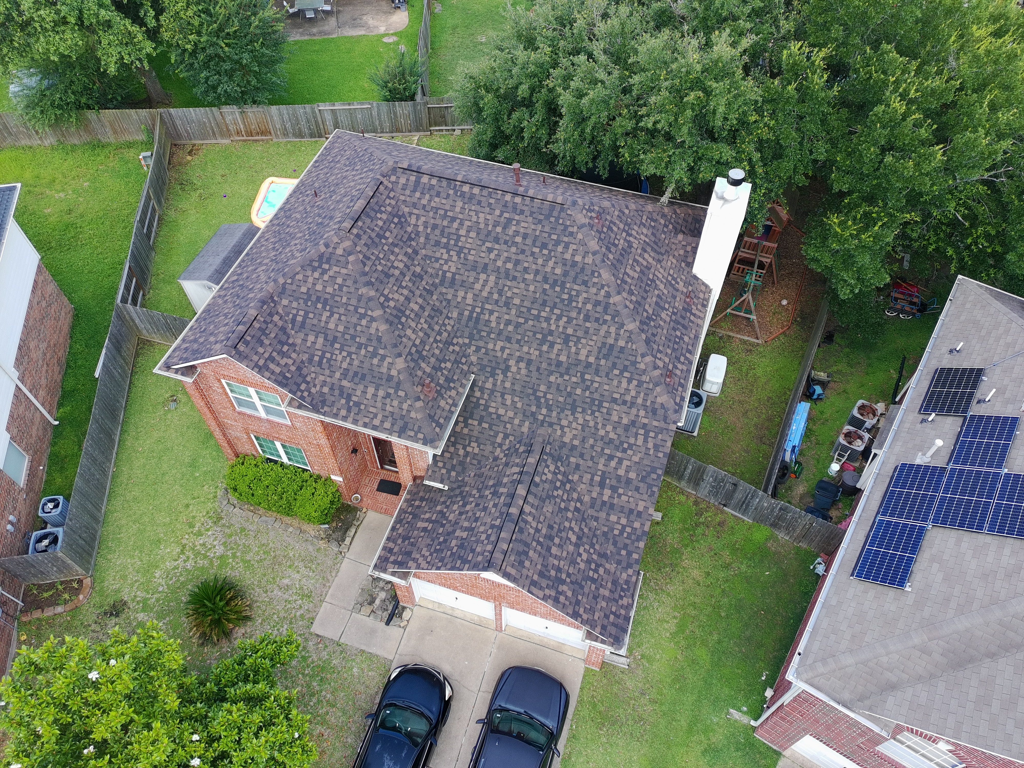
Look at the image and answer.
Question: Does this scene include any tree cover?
Yes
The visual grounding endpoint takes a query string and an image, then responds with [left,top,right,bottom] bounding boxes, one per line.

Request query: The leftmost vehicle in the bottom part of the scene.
[346,660,455,768]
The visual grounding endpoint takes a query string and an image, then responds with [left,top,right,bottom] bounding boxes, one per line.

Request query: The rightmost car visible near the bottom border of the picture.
[470,656,568,768]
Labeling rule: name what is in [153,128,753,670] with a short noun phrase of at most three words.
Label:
house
